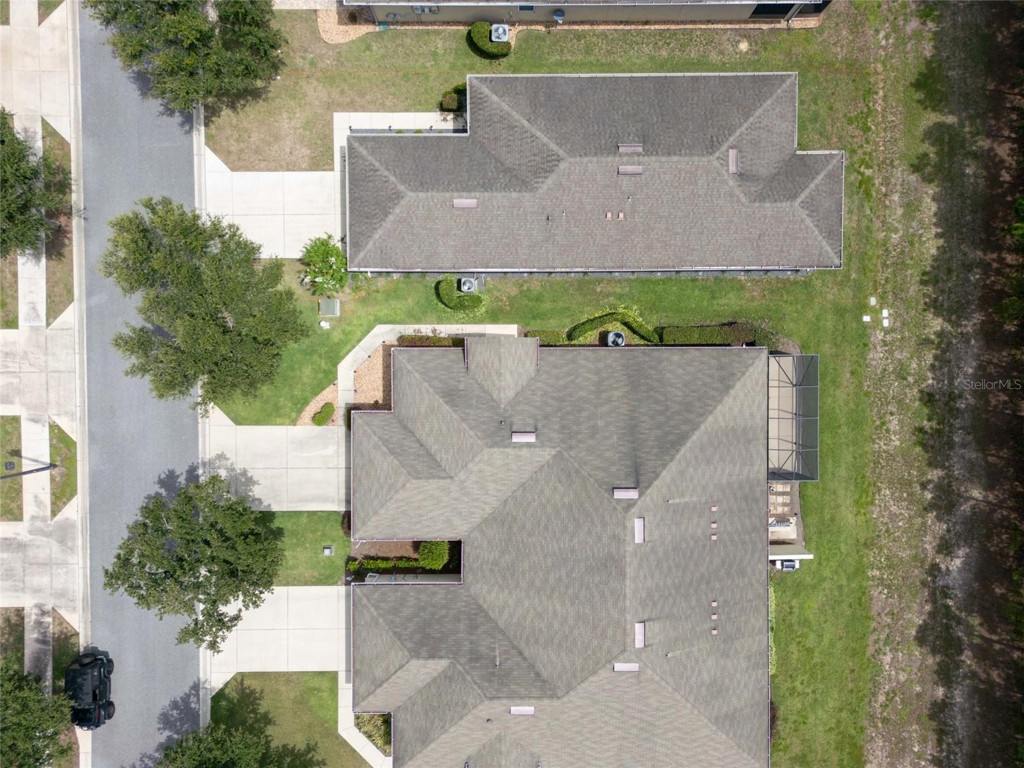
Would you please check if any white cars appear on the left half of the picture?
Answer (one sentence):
No, no white car can be made out on the left half of the picture.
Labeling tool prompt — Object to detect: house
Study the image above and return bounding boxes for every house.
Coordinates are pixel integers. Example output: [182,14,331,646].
[343,0,836,23]
[352,337,768,768]
[347,72,844,274]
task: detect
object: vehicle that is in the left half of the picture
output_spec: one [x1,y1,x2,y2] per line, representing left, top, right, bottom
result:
[67,648,114,730]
